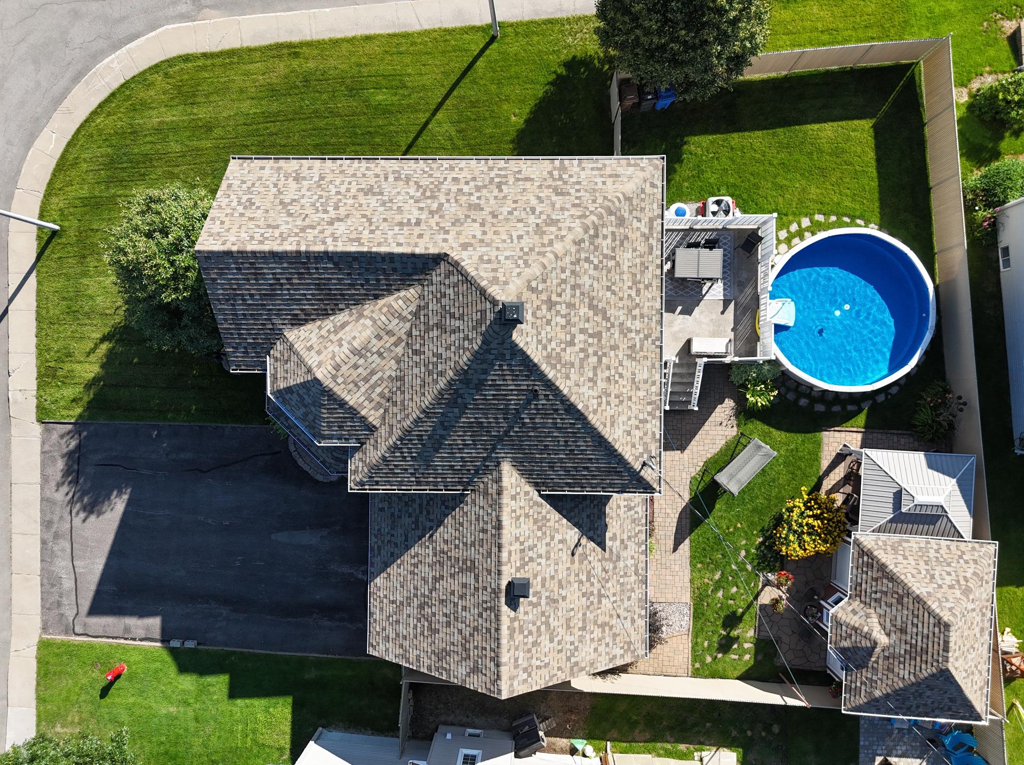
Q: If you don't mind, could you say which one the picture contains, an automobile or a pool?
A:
pool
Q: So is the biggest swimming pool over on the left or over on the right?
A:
right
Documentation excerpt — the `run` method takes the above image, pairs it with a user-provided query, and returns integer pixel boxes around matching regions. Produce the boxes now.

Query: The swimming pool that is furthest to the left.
[764,225,938,394]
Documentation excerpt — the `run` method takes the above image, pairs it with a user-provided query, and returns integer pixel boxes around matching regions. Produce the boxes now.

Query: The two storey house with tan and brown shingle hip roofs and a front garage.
[197,152,670,701]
